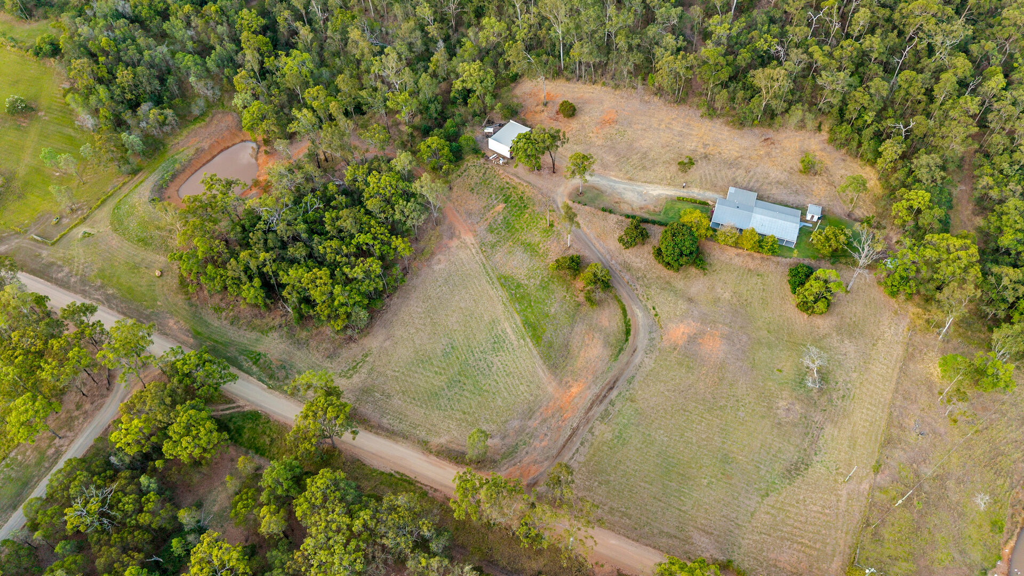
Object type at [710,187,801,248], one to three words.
house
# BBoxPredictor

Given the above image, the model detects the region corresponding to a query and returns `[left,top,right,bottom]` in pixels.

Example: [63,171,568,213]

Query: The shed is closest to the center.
[488,118,529,158]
